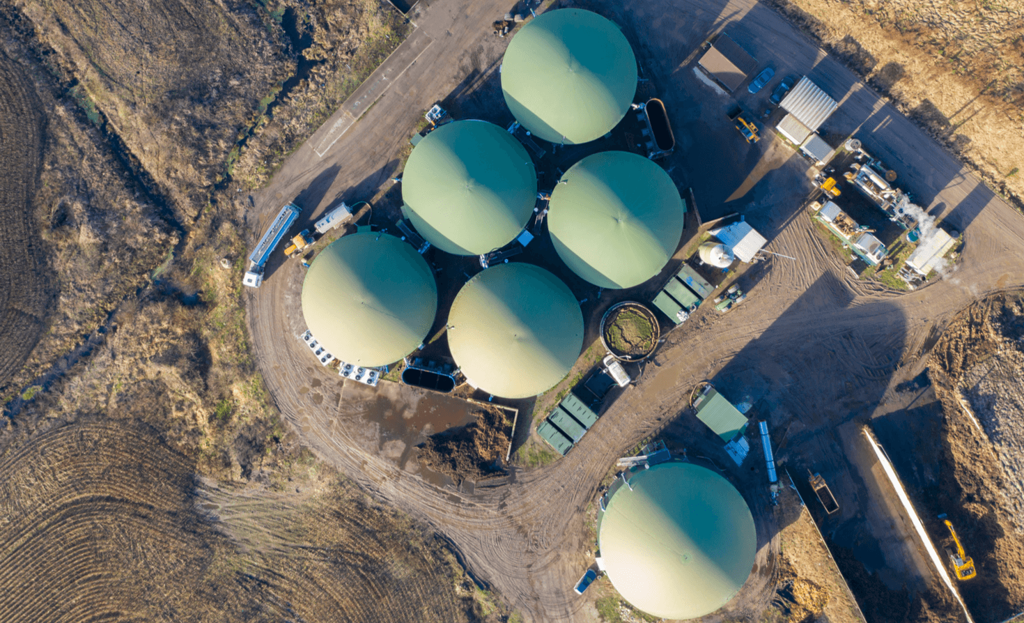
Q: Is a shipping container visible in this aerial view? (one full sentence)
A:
Yes, the picture does show a shipping container.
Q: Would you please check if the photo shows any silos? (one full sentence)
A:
Yes, the picture does show a silo.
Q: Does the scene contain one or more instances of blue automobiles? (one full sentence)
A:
Yes, looking at the shot, I can spot a blue automobile.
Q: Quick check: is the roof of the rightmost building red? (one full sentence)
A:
No, the color of the roof of the rightmost building is white.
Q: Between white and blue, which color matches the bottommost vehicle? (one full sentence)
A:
The color of the bottommost vehicle is blue.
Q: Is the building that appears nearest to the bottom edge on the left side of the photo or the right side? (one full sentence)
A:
The building that appears nearest to the bottom edge is on the right side of the image.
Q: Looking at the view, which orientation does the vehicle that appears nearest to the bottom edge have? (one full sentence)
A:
Seen from above, the vehicle that appears nearest to the bottom edge lies at an angle.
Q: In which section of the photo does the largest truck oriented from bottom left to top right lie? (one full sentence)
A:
Look in the left portion of the view to spot the largest truck oriented from bottom left to top right.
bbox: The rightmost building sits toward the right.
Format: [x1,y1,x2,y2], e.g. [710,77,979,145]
[897,228,956,277]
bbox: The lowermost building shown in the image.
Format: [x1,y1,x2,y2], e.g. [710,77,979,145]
[679,377,748,443]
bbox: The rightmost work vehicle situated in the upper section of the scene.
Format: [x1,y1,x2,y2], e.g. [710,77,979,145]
[811,173,839,201]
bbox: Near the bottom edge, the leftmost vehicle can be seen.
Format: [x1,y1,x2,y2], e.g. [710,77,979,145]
[574,566,599,594]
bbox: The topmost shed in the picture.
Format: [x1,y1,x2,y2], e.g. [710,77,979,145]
[697,33,758,92]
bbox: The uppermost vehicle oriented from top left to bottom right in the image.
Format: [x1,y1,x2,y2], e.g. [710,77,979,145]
[723,105,762,145]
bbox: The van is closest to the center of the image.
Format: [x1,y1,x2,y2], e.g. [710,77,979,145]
[602,354,630,387]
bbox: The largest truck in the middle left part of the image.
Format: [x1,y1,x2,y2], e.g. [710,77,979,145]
[235,201,307,292]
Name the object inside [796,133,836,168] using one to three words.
building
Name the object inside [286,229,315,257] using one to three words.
work vehicle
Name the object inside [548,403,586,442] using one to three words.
shipping container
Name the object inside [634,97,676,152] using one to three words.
storage tank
